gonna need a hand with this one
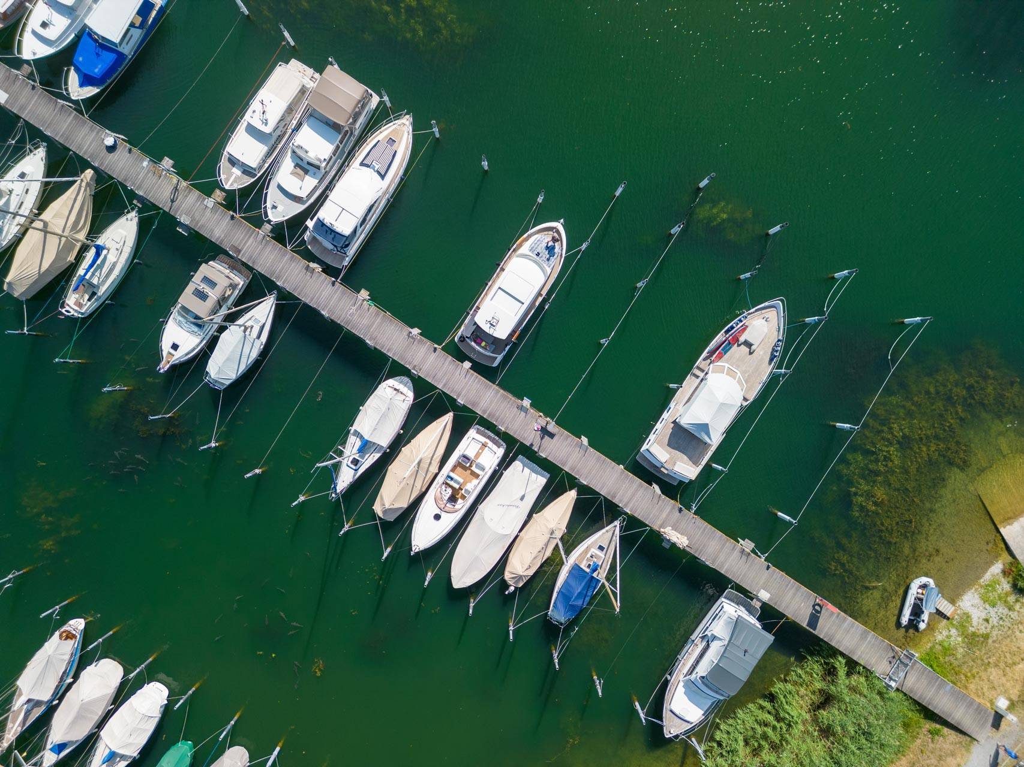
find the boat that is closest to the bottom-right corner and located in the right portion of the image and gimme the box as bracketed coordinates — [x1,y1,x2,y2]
[891,576,934,637]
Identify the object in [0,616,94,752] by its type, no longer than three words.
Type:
boat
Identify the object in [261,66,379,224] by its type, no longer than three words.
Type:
boat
